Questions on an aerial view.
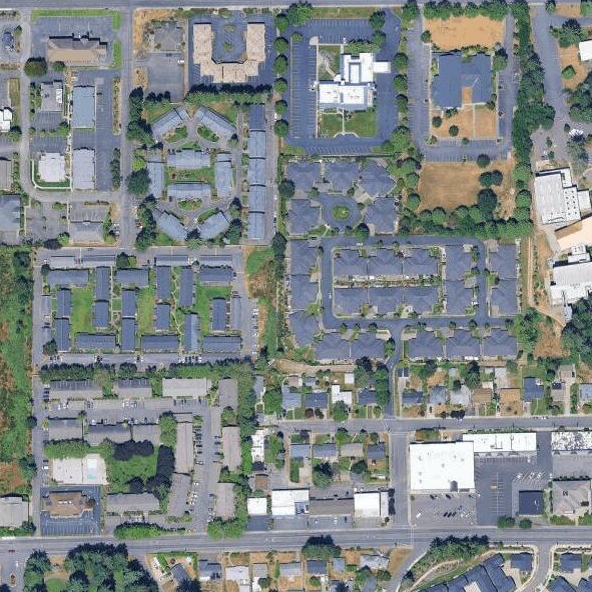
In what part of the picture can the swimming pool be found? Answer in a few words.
bottom left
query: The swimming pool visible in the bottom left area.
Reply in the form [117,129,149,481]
[53,453,107,486]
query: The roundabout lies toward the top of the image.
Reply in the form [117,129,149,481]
[321,191,361,232]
